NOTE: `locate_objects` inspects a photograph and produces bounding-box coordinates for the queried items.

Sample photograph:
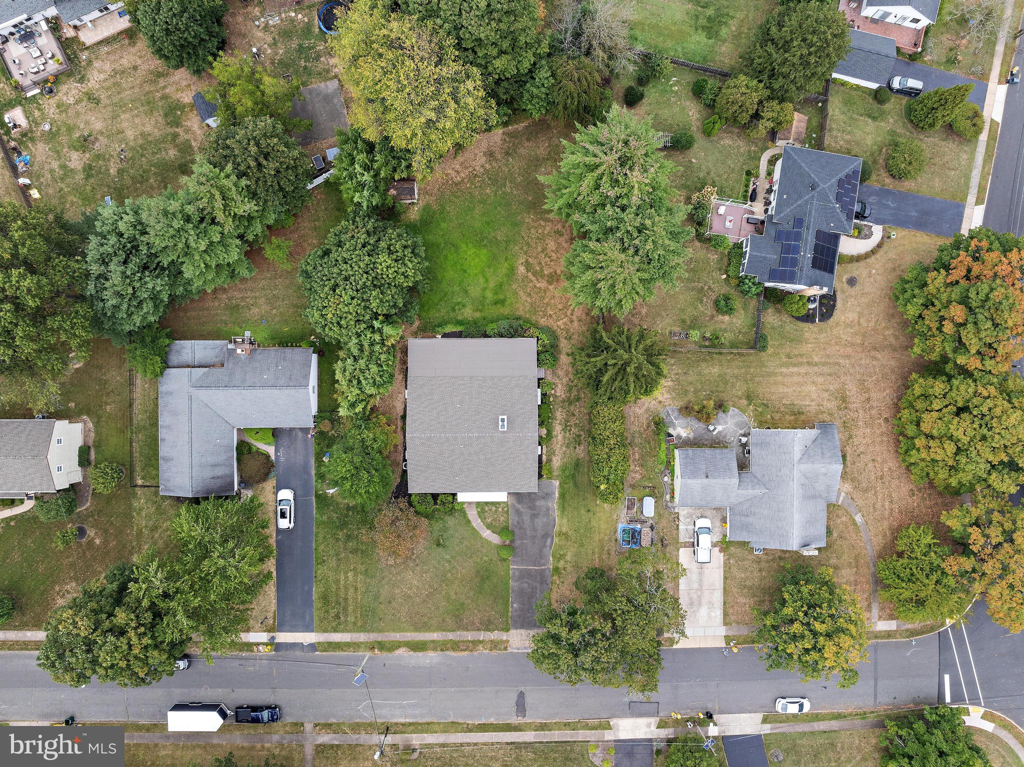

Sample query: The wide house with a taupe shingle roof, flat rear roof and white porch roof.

[404,337,545,502]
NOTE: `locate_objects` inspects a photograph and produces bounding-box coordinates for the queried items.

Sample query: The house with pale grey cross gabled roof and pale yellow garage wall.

[674,423,842,555]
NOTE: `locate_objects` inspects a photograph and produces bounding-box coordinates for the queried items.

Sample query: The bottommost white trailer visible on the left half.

[167,701,233,732]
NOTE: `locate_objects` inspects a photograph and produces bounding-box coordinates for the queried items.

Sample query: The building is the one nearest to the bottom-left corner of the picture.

[0,419,84,501]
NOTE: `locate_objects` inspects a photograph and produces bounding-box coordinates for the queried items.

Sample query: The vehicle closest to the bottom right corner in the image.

[776,698,813,718]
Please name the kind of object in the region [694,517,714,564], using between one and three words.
vehicle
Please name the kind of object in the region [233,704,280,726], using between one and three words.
truck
